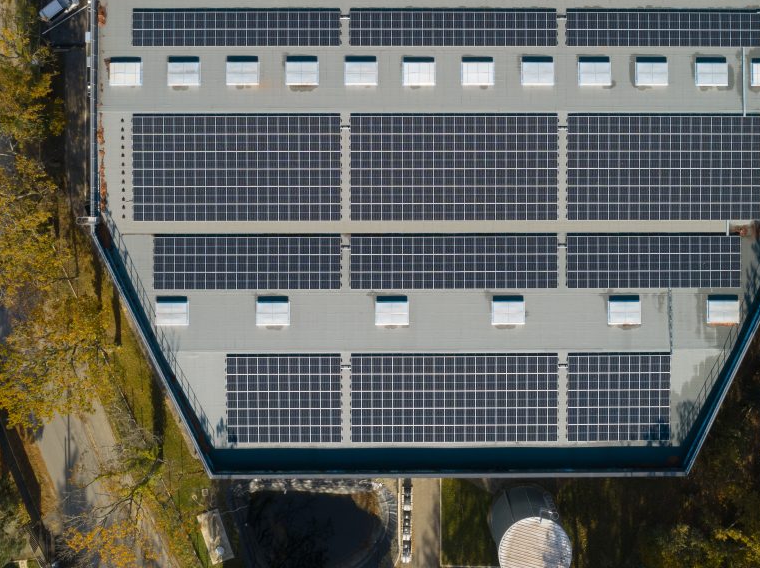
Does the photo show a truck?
No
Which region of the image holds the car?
top left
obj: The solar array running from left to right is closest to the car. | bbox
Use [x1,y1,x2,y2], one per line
[132,12,342,46]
